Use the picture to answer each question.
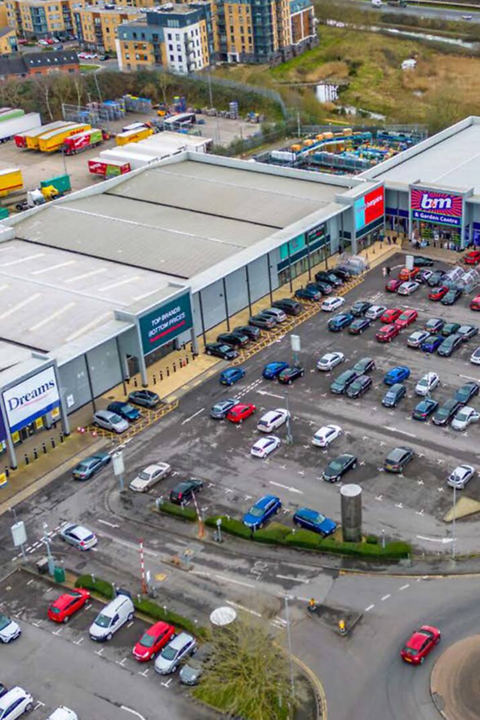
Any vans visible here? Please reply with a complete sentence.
Yes, there is a van in the image.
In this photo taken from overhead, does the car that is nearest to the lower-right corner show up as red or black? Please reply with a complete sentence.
In this view, the car that is nearest to the lower-right corner is red.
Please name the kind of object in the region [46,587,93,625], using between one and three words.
car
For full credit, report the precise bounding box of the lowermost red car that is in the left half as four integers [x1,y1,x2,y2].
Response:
[132,621,175,661]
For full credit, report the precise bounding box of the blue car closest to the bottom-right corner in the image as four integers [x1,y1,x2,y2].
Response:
[292,505,339,536]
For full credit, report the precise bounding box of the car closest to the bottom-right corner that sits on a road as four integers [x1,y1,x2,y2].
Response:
[400,625,441,667]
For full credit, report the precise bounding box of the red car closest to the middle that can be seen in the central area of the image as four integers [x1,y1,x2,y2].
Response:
[226,403,256,424]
